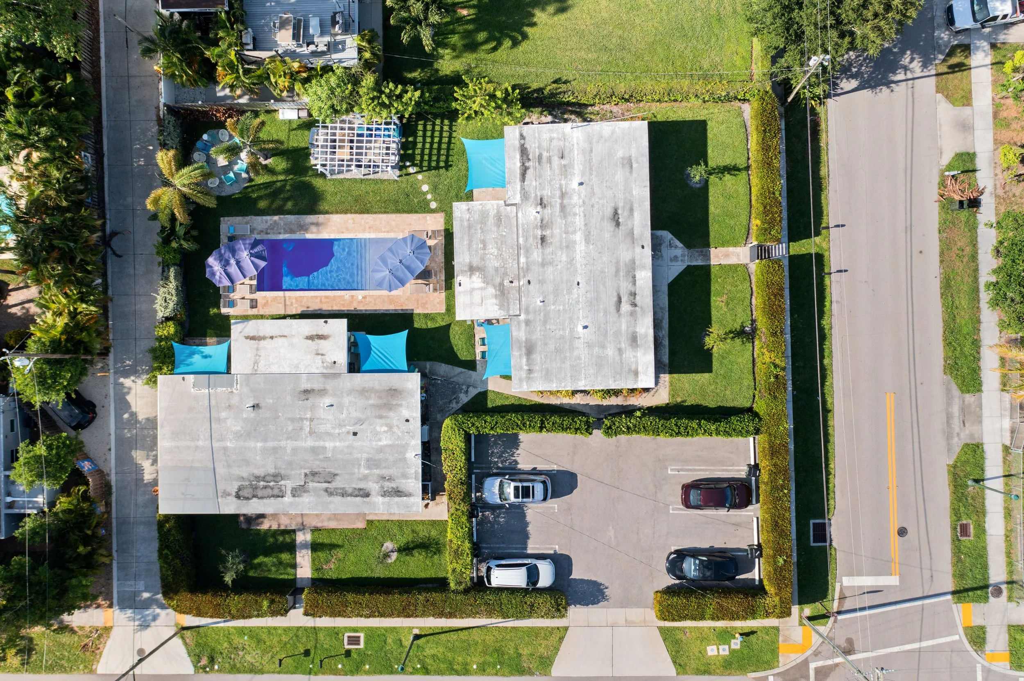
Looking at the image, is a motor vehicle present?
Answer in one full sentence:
Yes, the frame does contain a motor vehicle.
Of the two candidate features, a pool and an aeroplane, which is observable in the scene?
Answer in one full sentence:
I can see a pool in this picture.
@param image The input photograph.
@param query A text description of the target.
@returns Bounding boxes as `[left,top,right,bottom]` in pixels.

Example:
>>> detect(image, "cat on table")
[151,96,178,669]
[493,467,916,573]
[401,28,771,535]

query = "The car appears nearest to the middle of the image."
[482,473,551,507]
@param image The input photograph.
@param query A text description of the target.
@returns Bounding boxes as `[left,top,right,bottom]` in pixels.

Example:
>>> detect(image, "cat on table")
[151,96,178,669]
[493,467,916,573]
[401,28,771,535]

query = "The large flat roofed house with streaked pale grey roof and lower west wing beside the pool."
[452,121,655,391]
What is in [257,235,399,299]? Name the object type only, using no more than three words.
swimming pool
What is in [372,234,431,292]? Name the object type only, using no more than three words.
umbrella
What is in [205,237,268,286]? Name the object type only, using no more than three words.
umbrella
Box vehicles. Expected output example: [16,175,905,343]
[679,479,752,513]
[664,548,739,584]
[482,473,551,507]
[484,555,555,591]
[58,382,104,433]
[938,0,1024,30]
